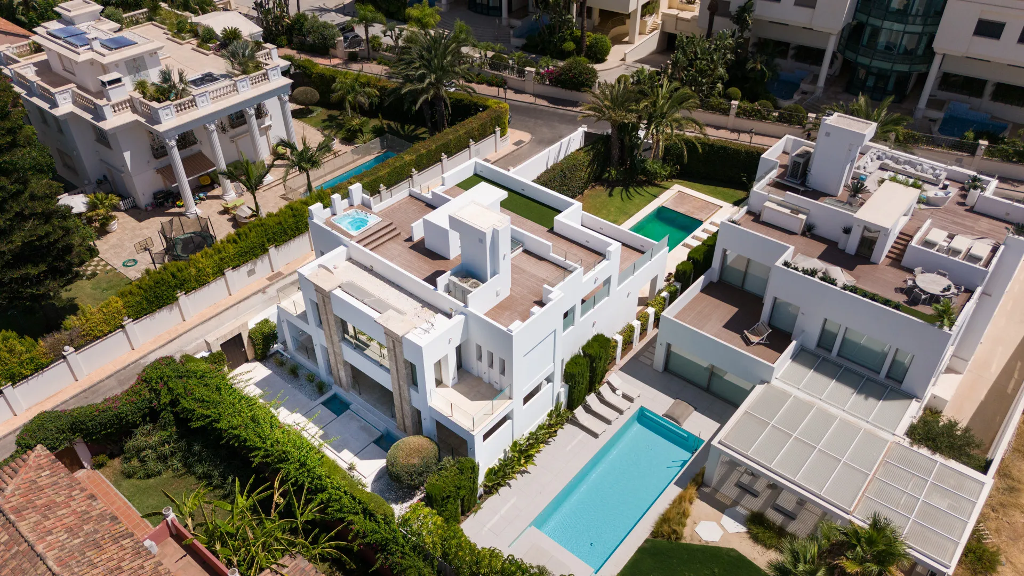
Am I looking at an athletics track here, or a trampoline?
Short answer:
trampoline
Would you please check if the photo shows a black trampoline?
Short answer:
Yes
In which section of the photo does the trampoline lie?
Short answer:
left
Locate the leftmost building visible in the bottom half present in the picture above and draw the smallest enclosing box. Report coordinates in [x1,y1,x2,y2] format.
[0,437,228,576]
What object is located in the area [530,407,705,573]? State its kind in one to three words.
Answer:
swimming pool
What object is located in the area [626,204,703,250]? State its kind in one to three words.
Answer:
swimming pool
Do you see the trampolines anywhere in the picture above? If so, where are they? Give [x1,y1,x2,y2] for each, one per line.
[158,208,218,260]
